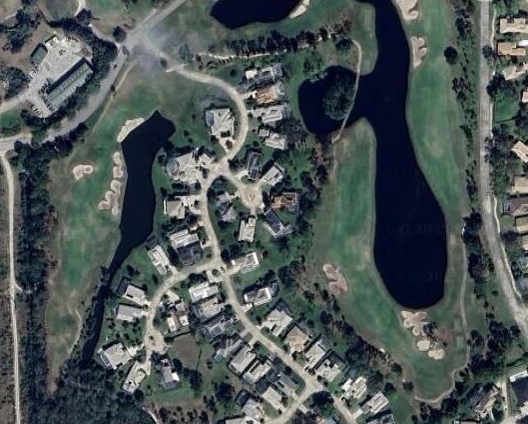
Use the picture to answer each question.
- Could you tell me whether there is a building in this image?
Yes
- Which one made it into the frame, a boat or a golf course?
golf course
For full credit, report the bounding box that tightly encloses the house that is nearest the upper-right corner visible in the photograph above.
[498,14,528,32]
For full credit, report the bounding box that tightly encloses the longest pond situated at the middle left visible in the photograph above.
[83,109,175,361]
